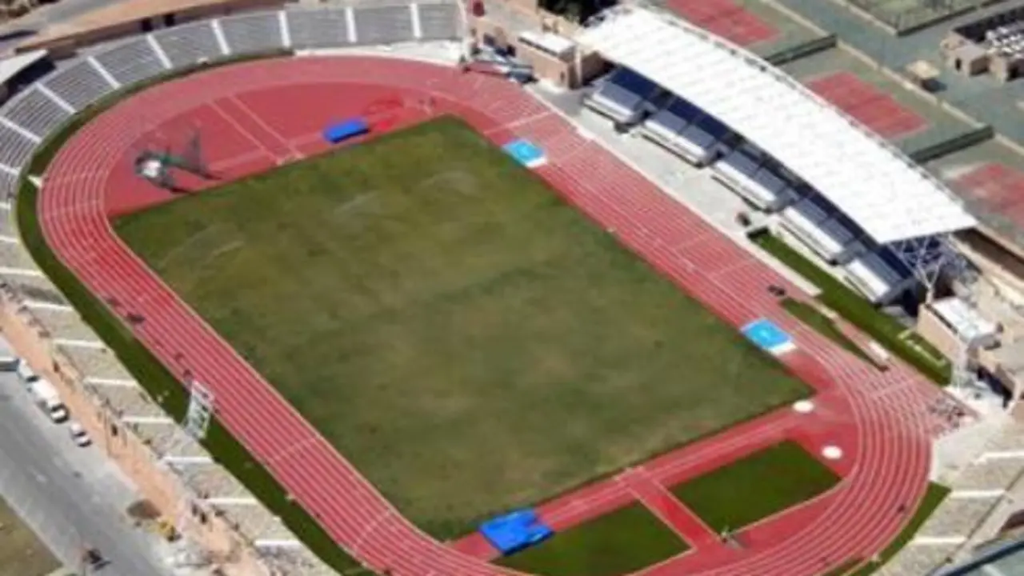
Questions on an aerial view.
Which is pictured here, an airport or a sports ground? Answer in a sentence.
This looks like a sports ground.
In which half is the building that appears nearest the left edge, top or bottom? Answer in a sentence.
The top half of the photo is where the building that appears nearest the left edge is.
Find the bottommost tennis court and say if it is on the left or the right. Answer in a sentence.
The bottommost tennis court appears in the right half of the scene.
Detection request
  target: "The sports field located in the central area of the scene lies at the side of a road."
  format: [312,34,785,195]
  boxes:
[114,116,813,537]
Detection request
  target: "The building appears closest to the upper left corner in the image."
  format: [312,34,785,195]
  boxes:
[0,45,48,99]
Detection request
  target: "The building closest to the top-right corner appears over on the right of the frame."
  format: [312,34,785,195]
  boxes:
[941,28,1024,83]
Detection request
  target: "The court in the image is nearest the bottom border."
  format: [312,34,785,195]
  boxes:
[950,162,1024,228]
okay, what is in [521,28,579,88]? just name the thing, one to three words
building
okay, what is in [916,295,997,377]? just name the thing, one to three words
building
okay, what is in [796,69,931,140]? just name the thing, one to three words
tennis court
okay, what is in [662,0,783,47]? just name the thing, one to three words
tennis court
